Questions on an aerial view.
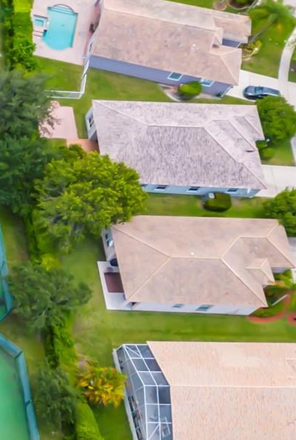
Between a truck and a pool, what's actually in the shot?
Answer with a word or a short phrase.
pool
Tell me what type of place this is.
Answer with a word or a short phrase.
residential area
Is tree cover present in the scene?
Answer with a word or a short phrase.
Yes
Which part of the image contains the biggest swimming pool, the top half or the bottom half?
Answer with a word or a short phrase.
top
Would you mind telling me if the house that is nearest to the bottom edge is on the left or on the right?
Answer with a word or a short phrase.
right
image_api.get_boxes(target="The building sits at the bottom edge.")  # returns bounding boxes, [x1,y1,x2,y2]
[145,341,296,440]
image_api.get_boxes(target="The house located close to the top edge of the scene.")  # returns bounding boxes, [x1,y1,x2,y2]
[87,0,252,96]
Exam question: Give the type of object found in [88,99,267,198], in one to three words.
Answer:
house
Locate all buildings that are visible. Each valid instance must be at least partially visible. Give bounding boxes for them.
[105,218,296,315]
[87,0,252,96]
[145,341,296,440]
[88,99,267,198]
